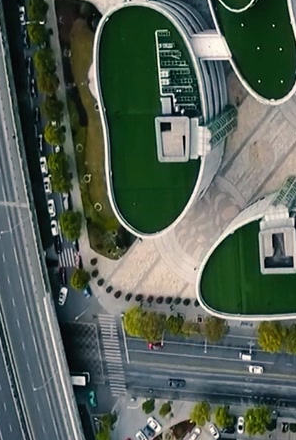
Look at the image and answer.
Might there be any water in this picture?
No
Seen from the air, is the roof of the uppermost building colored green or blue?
green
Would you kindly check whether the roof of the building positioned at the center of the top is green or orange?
green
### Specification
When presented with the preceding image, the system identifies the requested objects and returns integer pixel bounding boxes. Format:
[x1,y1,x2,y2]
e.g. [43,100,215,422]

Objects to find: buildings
[199,173,296,318]
[210,0,296,109]
[94,1,244,239]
